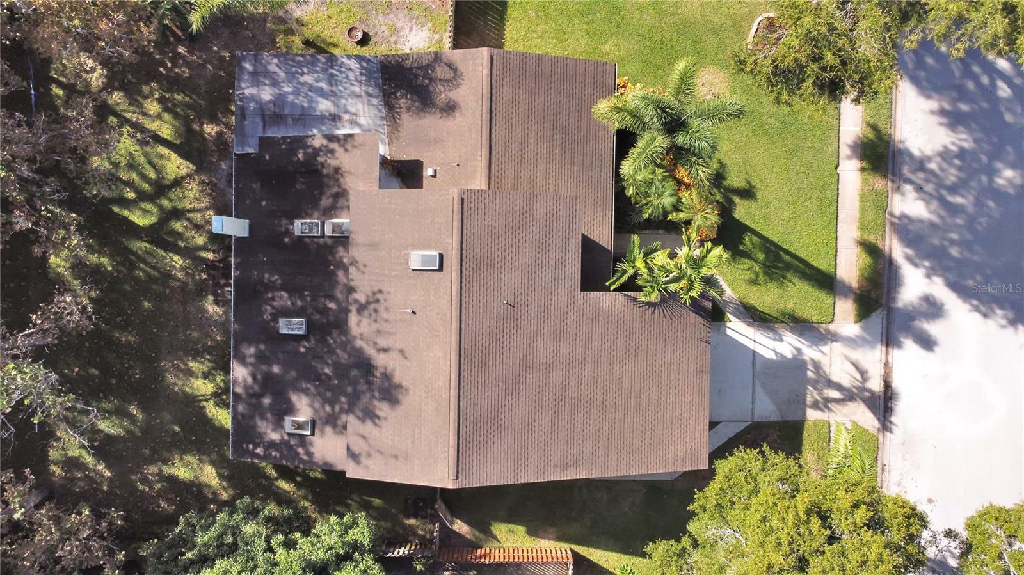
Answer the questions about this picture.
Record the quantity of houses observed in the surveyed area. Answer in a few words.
1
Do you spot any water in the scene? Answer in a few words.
No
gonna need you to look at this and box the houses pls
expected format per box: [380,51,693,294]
[215,46,711,490]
